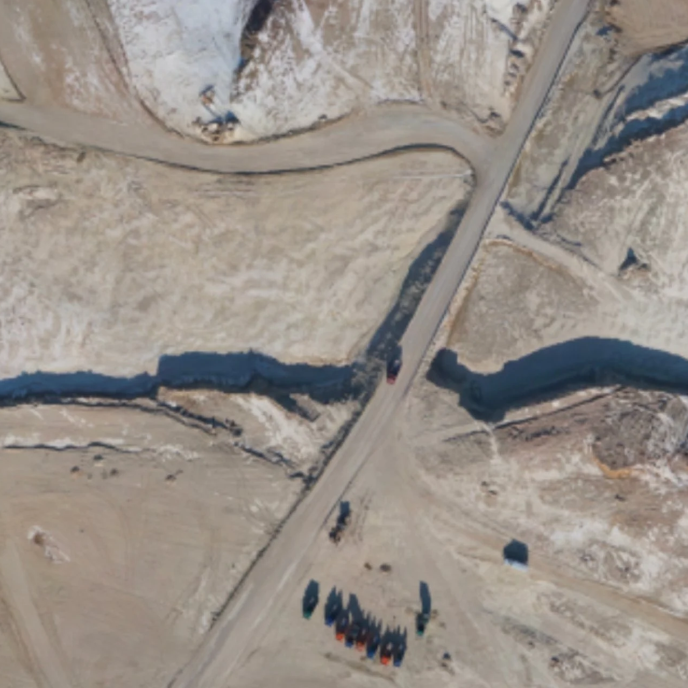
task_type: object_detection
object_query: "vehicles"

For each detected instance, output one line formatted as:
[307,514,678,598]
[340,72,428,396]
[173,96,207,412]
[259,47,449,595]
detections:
[335,617,349,642]
[333,522,348,546]
[393,643,407,669]
[356,628,369,654]
[346,619,360,649]
[388,360,402,386]
[382,642,395,668]
[302,595,318,621]
[326,601,340,628]
[367,634,381,660]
